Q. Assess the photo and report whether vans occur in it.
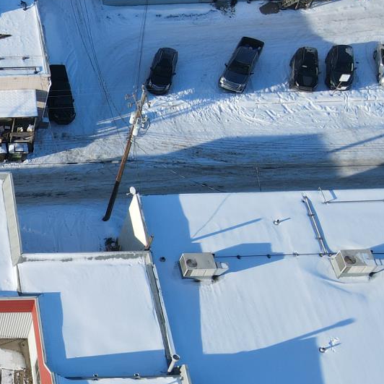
Yes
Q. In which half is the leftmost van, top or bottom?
top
